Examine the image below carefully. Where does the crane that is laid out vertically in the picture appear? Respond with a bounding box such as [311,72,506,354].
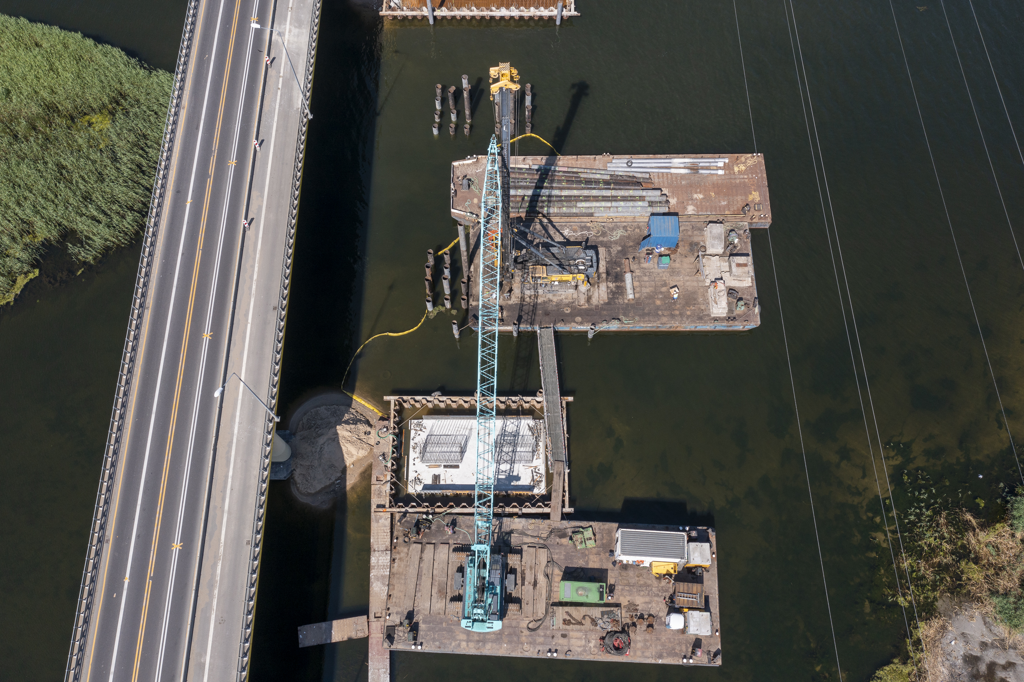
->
[446,130,521,630]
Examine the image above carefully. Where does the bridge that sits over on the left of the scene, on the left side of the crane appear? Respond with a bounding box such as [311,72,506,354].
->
[63,0,324,682]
